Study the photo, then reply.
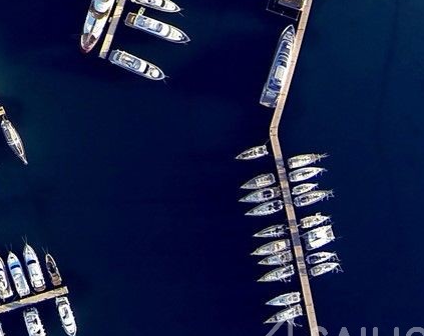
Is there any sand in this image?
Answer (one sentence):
No, the scene doesn't show any sand.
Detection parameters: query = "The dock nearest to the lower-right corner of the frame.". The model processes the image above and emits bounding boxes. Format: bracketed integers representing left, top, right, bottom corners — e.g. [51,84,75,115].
[268,0,318,336]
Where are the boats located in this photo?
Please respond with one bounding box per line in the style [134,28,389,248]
[237,146,269,160]
[254,264,295,284]
[290,183,322,195]
[288,168,331,181]
[130,0,186,13]
[25,244,47,292]
[252,223,287,238]
[24,307,47,336]
[2,117,29,168]
[302,225,341,250]
[9,252,30,301]
[292,190,339,207]
[299,215,331,229]
[259,250,294,266]
[57,296,78,336]
[47,255,60,286]
[0,258,14,303]
[237,187,281,202]
[286,154,329,168]
[119,14,199,45]
[237,172,276,191]
[251,239,292,256]
[84,0,118,50]
[262,17,299,110]
[309,262,345,276]
[305,251,341,265]
[245,199,284,216]
[263,306,305,328]
[260,292,301,309]
[107,48,166,79]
